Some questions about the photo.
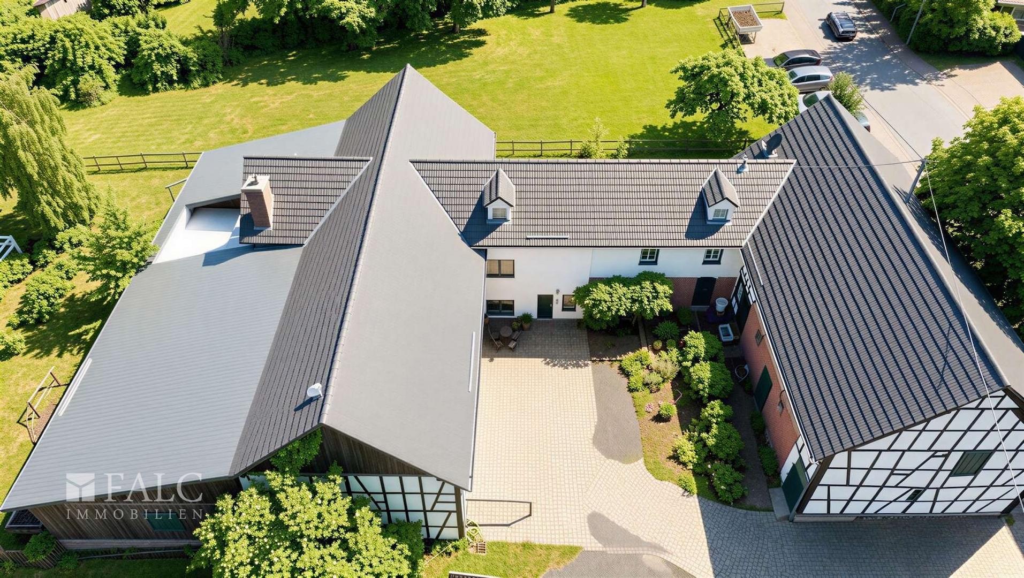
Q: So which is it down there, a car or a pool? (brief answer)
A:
car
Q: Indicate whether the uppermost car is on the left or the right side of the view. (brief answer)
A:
right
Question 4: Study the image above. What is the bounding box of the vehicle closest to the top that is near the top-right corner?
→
[824,9,865,40]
